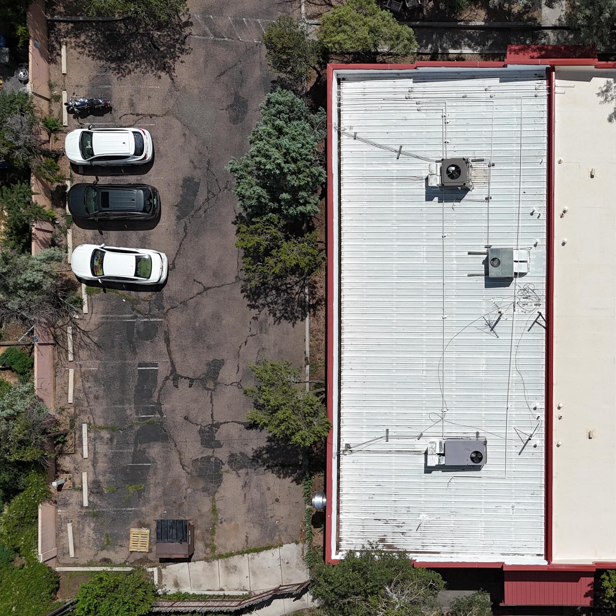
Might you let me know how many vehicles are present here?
4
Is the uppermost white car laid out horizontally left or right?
left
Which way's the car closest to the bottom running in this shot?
from side to side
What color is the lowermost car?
white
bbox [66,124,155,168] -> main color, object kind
white car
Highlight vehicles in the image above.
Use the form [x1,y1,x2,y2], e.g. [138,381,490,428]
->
[66,124,155,168]
[67,179,161,225]
[72,241,168,286]
[66,86,113,113]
